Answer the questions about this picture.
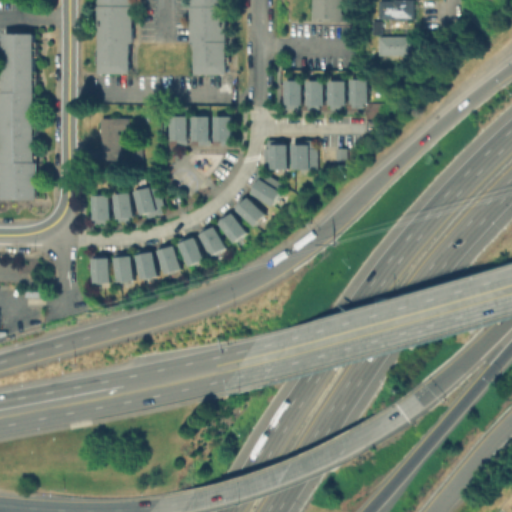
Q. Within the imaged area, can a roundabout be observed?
No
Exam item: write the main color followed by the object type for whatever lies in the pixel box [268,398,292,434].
white truck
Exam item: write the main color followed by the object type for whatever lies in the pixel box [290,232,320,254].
white truck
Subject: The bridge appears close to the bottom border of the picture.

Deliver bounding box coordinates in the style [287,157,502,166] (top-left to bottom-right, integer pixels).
[154,402,410,512]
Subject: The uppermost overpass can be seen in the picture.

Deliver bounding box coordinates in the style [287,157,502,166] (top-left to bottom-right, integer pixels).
[227,264,512,393]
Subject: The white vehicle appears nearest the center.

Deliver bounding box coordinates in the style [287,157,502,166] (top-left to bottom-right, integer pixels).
[269,252,291,270]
